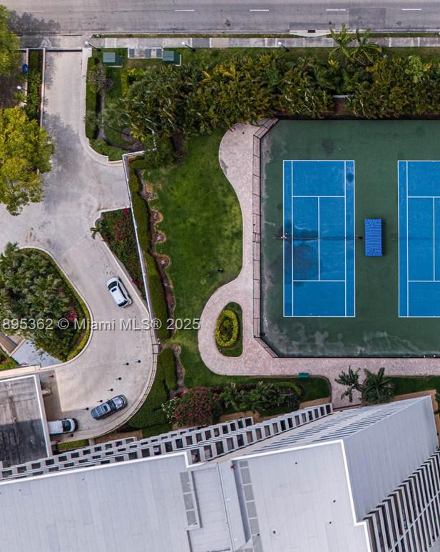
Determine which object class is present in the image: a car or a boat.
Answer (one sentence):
It is a car that can be seen here.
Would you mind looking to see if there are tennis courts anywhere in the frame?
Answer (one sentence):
Yes, looking at the shot, I can spot a tennis court.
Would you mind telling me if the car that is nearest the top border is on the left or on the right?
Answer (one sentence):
The car that is nearest the top border is on the left side of the image.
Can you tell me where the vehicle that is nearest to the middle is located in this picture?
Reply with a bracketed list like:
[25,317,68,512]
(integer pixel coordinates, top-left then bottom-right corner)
[109,278,133,308]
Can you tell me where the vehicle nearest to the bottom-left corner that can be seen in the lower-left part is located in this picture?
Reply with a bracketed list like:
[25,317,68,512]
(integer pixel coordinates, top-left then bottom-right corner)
[48,418,76,434]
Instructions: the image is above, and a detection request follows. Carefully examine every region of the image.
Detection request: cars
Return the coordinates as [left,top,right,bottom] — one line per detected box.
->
[92,396,126,418]
[109,278,133,308]
[48,418,76,434]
